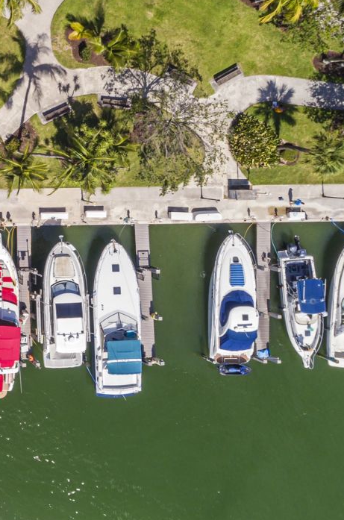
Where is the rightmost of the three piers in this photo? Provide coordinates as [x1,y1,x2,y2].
[254,224,272,351]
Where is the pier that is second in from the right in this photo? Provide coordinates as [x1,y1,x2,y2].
[133,226,155,359]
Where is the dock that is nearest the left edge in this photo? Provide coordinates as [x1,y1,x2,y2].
[16,227,33,359]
